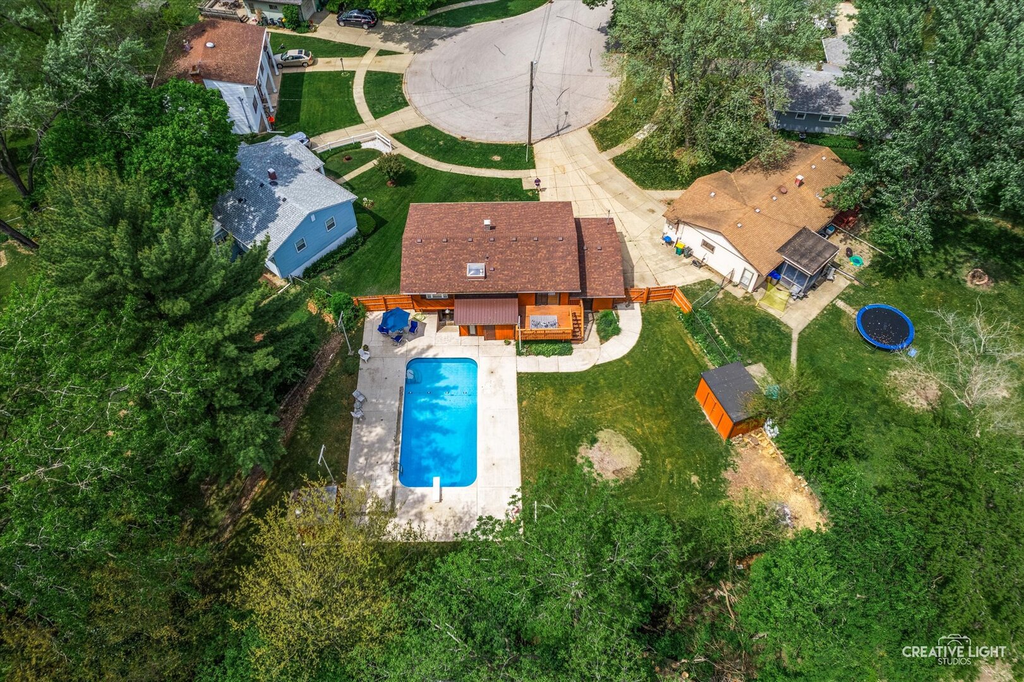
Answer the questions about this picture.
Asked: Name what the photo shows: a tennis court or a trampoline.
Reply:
trampoline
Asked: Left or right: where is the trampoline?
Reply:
right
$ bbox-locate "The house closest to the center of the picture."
[400,202,626,337]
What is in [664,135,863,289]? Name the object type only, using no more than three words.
house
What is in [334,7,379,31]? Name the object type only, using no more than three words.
car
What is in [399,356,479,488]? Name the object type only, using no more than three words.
swimming pool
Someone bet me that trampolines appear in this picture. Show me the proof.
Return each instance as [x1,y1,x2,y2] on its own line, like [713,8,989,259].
[855,307,913,355]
